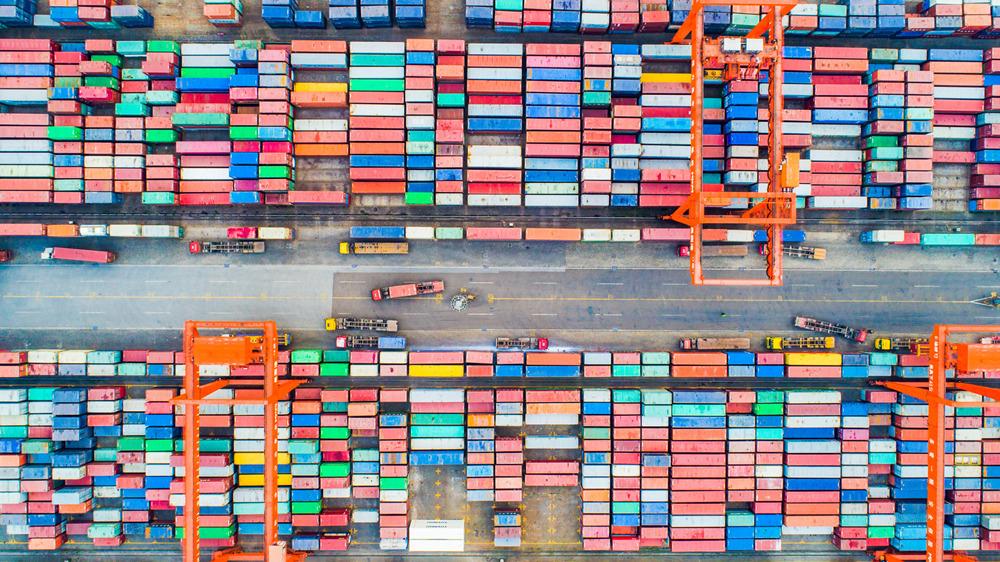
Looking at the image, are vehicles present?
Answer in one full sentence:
Yes, I can see a vehicle in this picture.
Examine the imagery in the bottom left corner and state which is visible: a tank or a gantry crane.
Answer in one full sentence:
Looking in the bottom left corner, you will find a gantry crane.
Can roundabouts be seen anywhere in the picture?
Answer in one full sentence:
No, the photo shows no roundabout.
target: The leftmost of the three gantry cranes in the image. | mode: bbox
[173,321,317,562]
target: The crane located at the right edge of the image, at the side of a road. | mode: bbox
[867,325,1000,562]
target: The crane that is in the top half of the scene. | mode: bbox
[660,0,799,287]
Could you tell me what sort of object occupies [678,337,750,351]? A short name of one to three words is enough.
vehicle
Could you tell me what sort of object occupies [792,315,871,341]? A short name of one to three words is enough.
truck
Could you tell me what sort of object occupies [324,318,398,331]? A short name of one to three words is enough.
vehicle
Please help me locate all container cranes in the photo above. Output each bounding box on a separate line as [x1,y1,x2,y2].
[173,321,317,562]
[660,0,799,287]
[867,325,1000,562]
